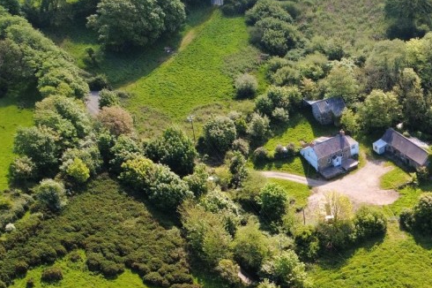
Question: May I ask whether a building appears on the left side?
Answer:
No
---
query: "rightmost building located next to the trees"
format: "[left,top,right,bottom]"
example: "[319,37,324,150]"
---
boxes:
[372,128,432,167]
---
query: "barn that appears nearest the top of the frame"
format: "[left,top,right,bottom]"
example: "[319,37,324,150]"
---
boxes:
[303,95,344,124]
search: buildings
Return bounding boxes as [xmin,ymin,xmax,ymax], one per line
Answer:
[299,131,363,180]
[303,95,344,124]
[372,128,432,167]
